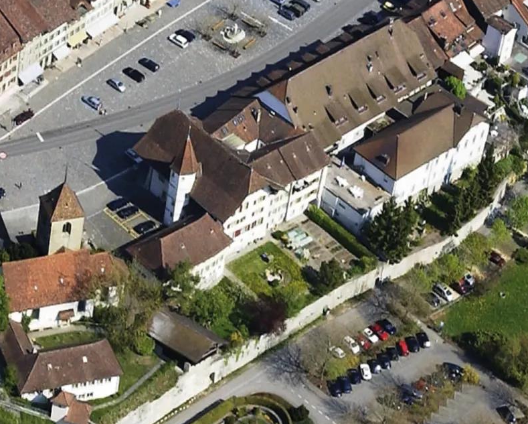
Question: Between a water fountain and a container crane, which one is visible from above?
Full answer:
This aerial view contains a water fountain.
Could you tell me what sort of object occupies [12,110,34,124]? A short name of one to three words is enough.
car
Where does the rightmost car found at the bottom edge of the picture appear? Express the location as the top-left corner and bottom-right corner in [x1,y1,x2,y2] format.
[496,406,518,424]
